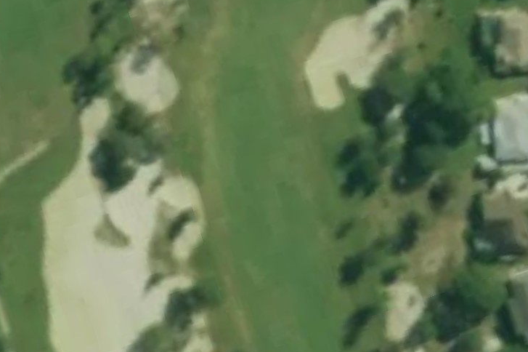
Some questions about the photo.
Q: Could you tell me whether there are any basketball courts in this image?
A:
No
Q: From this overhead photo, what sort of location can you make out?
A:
golf course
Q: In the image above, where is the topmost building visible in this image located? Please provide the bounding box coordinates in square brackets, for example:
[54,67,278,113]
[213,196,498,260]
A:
[477,10,528,73]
